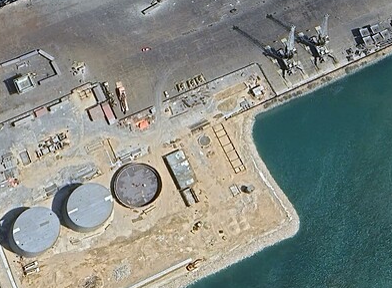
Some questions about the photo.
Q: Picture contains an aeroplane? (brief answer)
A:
No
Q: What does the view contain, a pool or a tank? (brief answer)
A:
tank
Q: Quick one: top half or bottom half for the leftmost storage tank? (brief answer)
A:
bottom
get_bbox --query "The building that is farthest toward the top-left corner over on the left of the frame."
[10,74,34,97]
